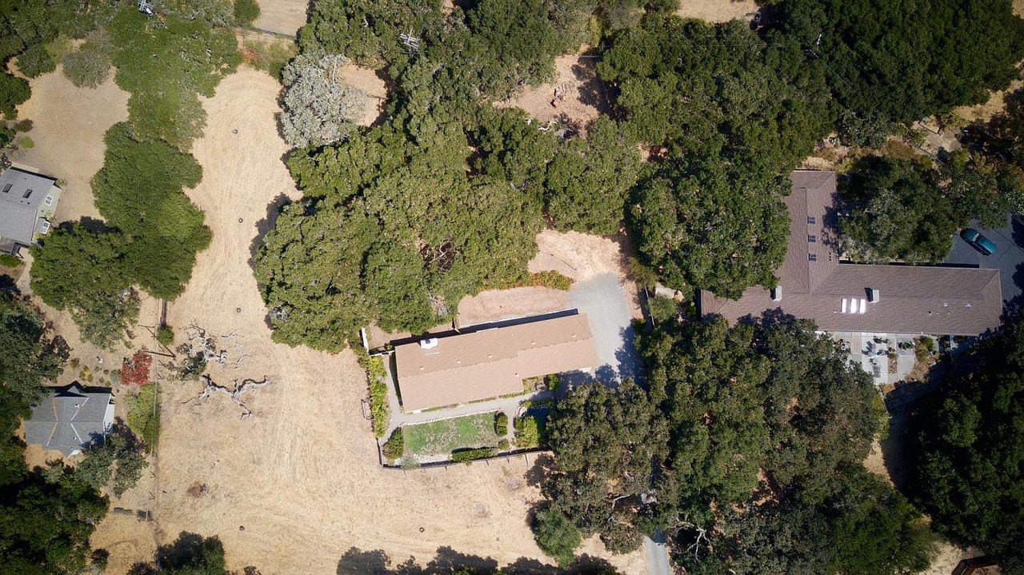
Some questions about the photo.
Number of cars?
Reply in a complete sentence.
The picture shows 1 car.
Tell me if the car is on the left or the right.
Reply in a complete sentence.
The car appears in the right half of the scene.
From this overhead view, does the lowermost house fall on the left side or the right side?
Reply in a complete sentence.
You can find the lowermost house on the left side of the picture.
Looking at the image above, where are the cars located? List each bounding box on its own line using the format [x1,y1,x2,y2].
[962,228,1002,257]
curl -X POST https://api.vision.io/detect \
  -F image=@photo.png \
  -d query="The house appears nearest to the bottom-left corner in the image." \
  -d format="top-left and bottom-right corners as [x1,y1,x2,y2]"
[26,388,120,459]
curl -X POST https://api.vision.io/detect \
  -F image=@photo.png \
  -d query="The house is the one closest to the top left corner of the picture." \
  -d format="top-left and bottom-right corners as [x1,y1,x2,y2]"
[0,164,68,256]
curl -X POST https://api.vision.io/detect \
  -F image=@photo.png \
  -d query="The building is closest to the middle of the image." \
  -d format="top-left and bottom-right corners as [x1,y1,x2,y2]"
[395,312,597,413]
